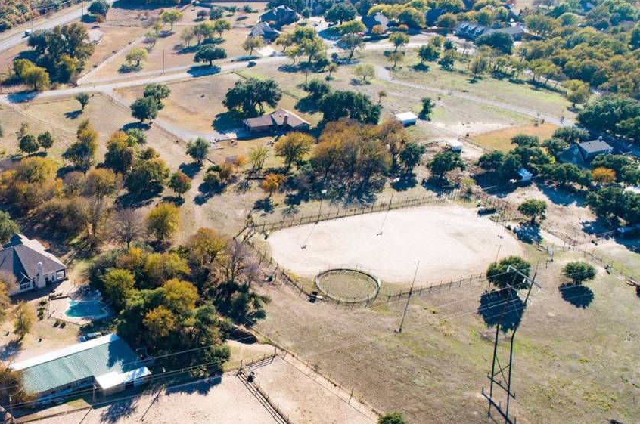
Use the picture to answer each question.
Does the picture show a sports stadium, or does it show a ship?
sports stadium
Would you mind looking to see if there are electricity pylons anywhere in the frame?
Yes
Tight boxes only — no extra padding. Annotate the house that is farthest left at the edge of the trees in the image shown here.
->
[0,233,66,294]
